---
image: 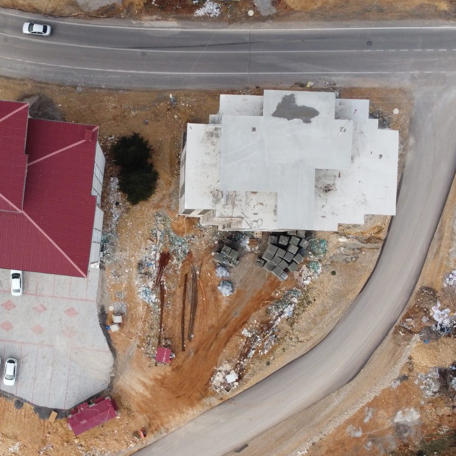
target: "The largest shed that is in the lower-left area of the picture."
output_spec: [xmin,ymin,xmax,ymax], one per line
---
[67,393,121,435]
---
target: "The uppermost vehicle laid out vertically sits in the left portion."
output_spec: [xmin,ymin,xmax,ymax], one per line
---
[11,268,24,295]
